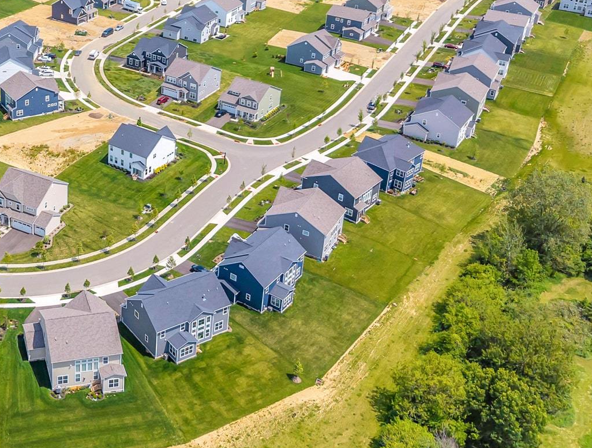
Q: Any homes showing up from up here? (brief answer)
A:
Yes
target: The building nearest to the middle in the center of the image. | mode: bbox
[262,189,346,260]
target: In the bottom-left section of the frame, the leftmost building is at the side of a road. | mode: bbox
[24,291,127,395]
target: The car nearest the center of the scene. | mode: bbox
[189,258,211,273]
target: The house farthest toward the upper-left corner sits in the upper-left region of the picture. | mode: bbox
[0,21,40,57]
